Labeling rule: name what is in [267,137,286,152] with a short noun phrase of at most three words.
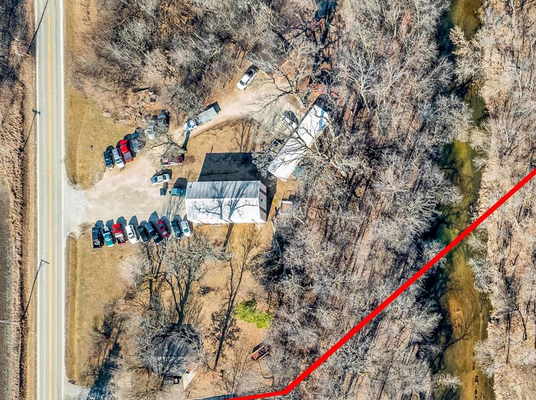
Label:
car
